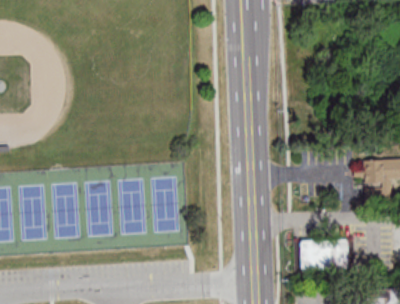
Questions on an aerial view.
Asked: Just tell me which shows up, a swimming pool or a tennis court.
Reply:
tennis court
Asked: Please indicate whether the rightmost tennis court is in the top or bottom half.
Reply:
bottom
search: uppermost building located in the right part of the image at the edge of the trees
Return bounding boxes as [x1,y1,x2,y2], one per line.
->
[350,160,400,198]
